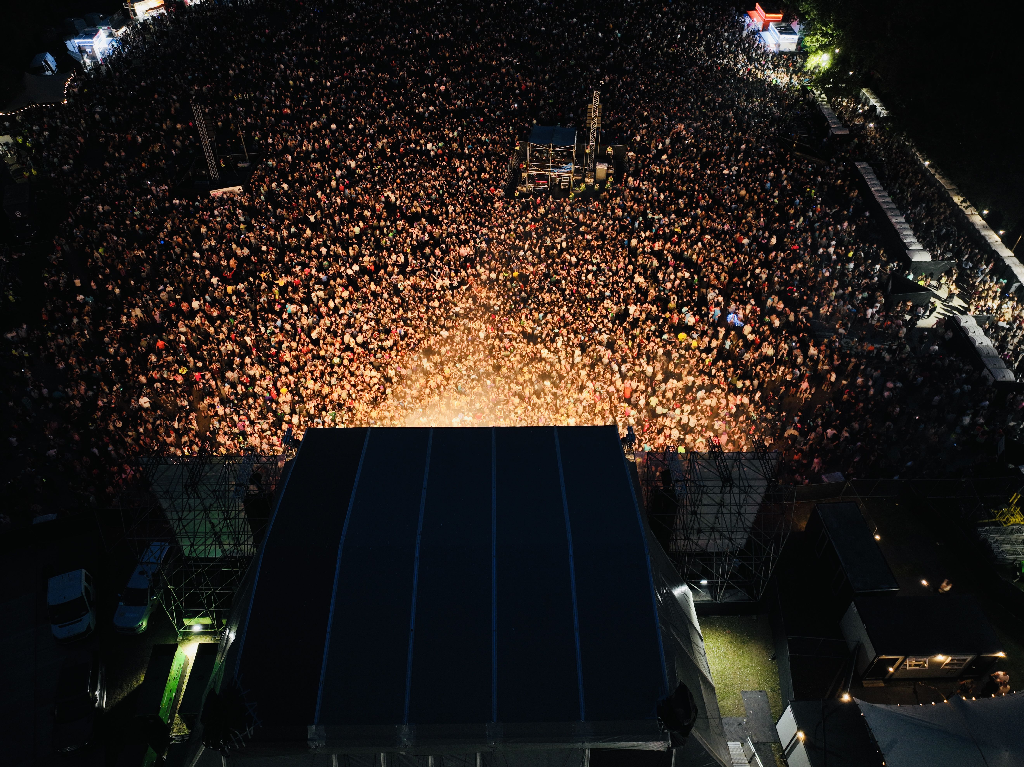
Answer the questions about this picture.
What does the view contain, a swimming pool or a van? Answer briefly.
van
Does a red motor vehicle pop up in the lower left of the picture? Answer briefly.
No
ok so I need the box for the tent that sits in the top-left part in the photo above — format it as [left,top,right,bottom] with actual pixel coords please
[0,68,84,128]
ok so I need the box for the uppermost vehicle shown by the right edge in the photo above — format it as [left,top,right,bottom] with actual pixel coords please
[977,472,1024,531]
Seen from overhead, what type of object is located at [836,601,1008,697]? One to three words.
building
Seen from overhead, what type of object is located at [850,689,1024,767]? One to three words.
tent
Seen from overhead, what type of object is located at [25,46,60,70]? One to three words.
vehicle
